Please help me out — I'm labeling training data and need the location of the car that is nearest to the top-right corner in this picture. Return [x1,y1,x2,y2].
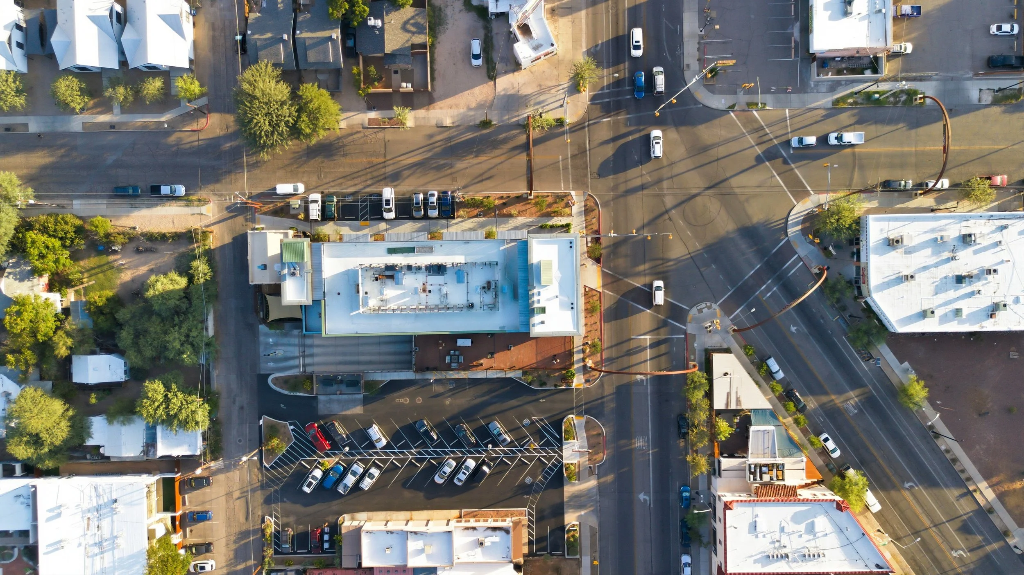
[988,22,1017,36]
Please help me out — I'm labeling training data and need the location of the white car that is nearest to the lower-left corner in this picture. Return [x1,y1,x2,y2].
[191,559,217,572]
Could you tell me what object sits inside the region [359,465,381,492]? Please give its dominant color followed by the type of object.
white car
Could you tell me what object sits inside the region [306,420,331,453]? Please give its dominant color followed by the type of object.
red truck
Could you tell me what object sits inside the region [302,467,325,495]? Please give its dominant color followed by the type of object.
white car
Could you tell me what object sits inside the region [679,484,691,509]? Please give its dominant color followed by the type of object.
blue vehicle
